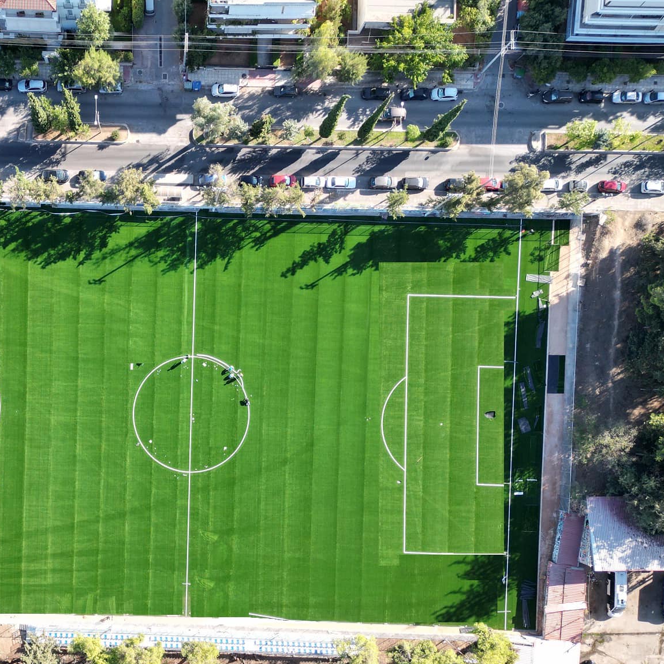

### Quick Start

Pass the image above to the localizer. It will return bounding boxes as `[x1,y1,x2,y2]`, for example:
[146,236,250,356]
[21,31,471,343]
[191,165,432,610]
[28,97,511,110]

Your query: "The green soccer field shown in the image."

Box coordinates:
[0,205,569,632]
